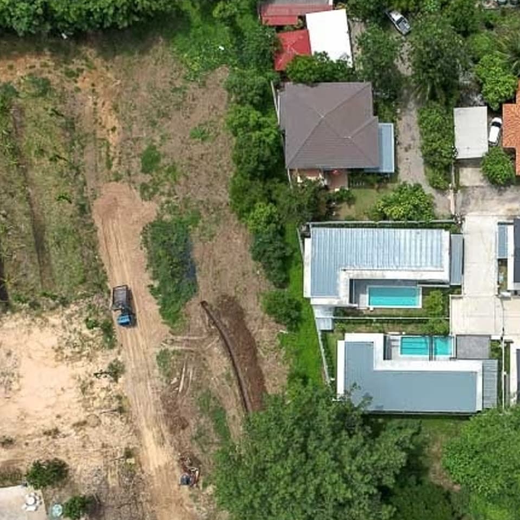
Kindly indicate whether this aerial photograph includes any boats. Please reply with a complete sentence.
No, there's no boat here.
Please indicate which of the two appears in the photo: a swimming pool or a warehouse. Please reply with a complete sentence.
Looking from above, you can make out a swimming pool.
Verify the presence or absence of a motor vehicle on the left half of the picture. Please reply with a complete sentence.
Yes, looking on the left half of the picture, one can make out a motor vehicle.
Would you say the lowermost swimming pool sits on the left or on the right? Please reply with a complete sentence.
You can find the lowermost swimming pool on the right side of the picture.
